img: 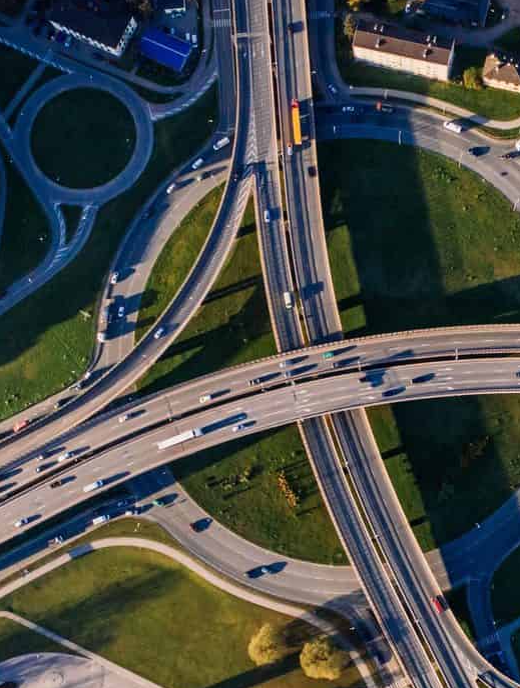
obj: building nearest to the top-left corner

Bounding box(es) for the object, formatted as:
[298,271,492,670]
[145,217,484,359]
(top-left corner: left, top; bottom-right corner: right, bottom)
[47,0,141,60]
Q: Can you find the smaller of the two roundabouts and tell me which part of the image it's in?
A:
top left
